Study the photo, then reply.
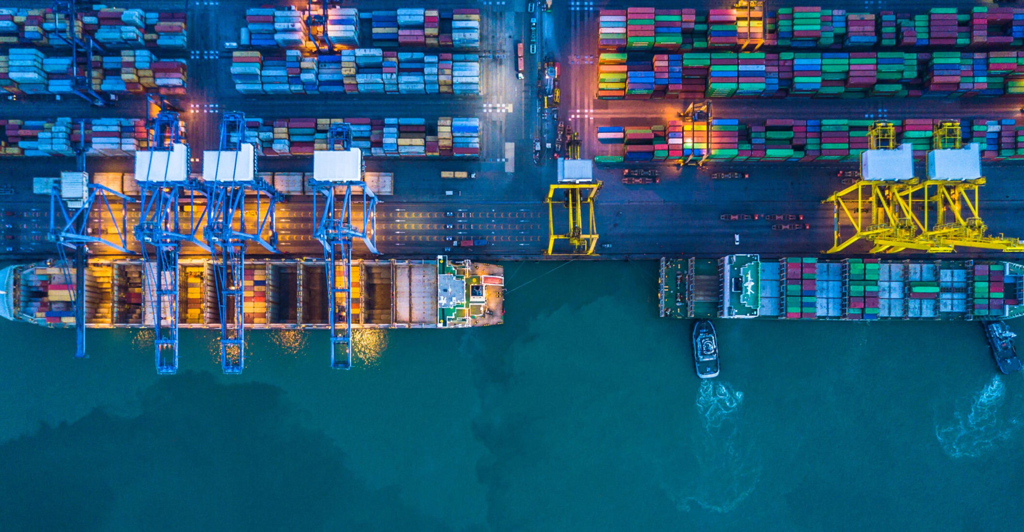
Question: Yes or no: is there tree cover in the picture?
No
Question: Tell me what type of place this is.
port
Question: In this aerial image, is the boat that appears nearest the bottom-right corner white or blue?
blue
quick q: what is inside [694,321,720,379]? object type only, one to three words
boat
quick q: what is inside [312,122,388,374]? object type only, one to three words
container crane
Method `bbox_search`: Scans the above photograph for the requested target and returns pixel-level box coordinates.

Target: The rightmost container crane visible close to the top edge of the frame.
[735,0,766,53]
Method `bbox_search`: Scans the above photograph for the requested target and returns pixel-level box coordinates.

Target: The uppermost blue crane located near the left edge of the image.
[50,0,92,53]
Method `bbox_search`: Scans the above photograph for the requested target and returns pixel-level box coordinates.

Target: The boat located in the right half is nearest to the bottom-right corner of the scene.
[983,319,1024,378]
